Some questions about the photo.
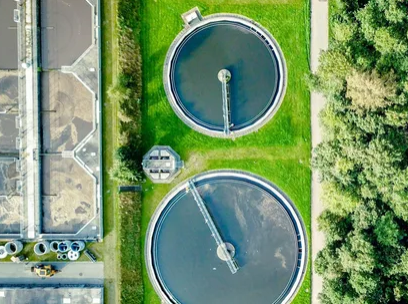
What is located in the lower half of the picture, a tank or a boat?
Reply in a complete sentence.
Visible in the lower half of the picture is a tank.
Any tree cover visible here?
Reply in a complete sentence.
Yes, there is tree cover in the image.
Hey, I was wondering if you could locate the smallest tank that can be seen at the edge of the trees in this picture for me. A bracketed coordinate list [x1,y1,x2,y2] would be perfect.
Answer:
[164,14,289,138]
